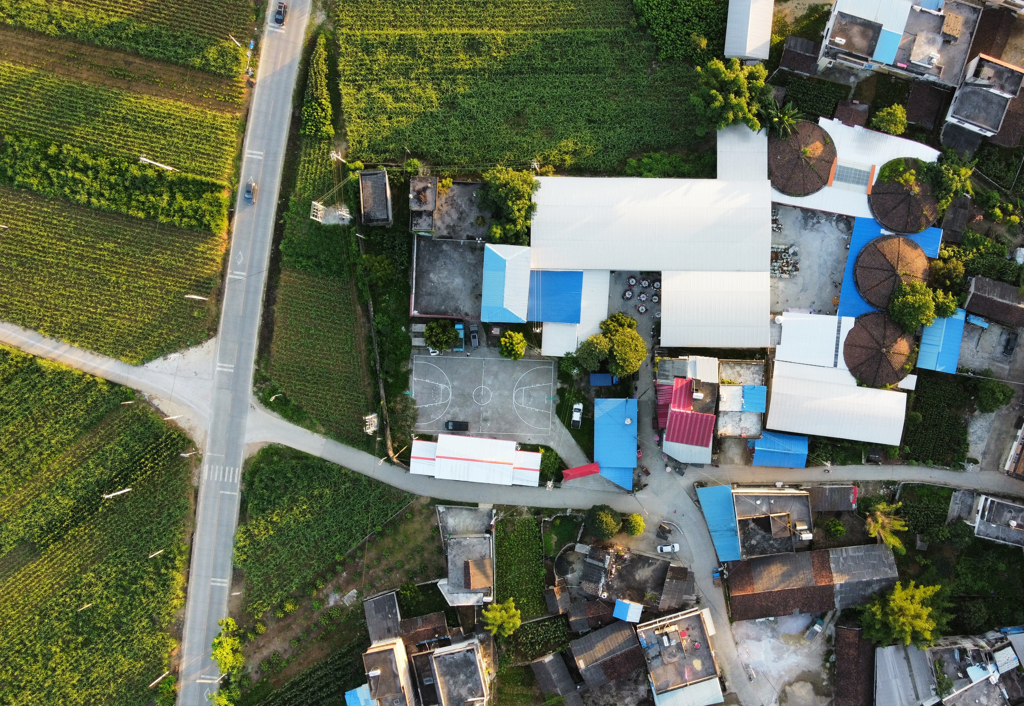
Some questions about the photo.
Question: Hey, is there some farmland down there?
Yes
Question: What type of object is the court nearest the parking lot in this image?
basketball court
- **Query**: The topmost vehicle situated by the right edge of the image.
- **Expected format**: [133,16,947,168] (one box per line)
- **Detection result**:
[1005,330,1022,357]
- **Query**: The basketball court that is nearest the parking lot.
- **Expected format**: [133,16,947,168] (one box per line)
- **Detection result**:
[412,352,559,439]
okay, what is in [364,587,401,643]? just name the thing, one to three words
barn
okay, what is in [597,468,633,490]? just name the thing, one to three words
shed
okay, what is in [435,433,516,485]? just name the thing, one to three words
building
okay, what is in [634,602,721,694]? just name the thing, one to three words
house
